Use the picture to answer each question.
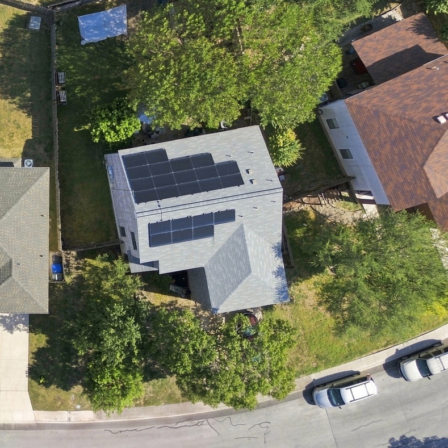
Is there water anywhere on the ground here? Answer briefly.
No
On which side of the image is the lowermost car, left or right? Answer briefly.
right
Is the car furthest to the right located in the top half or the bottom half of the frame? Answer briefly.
bottom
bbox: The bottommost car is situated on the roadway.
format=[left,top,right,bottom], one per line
[314,374,376,409]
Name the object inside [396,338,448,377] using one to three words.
car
